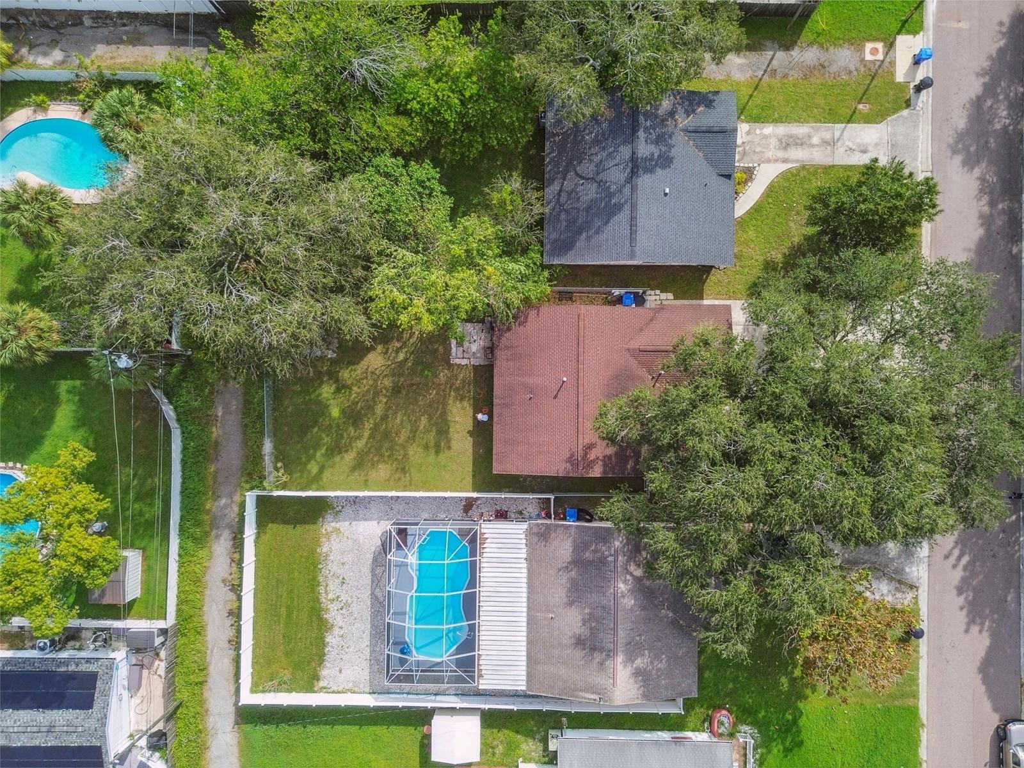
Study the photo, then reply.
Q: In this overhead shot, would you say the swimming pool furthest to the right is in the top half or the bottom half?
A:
bottom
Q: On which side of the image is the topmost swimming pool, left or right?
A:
left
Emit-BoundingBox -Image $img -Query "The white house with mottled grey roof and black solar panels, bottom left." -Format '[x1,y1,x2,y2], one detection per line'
[0,649,129,768]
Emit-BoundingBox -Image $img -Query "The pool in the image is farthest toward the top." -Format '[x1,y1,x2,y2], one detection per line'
[0,104,137,204]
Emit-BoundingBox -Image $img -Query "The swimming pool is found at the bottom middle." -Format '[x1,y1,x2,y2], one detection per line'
[395,526,481,667]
